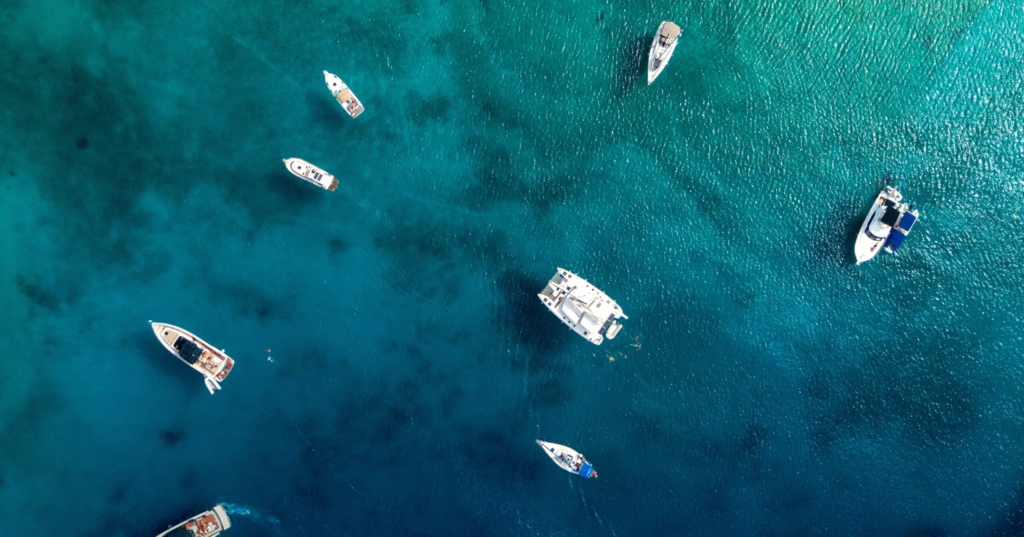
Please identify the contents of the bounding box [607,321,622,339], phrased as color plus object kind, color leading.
white boat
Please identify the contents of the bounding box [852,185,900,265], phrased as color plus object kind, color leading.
white boat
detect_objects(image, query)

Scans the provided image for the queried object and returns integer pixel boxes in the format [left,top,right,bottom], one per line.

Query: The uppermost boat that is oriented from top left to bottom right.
[323,71,365,118]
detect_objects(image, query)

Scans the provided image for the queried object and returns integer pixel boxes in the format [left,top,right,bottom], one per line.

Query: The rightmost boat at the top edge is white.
[647,21,682,85]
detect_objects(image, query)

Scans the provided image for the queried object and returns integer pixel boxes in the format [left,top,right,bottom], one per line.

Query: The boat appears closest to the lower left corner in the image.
[158,504,231,537]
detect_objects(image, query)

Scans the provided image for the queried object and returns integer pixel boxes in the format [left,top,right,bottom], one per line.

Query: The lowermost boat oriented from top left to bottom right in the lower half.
[536,440,598,478]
